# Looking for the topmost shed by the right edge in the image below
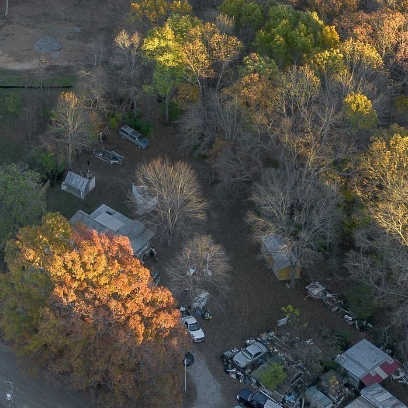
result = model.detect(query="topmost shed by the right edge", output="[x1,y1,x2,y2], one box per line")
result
[331,339,399,395]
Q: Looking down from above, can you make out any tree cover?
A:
Yes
